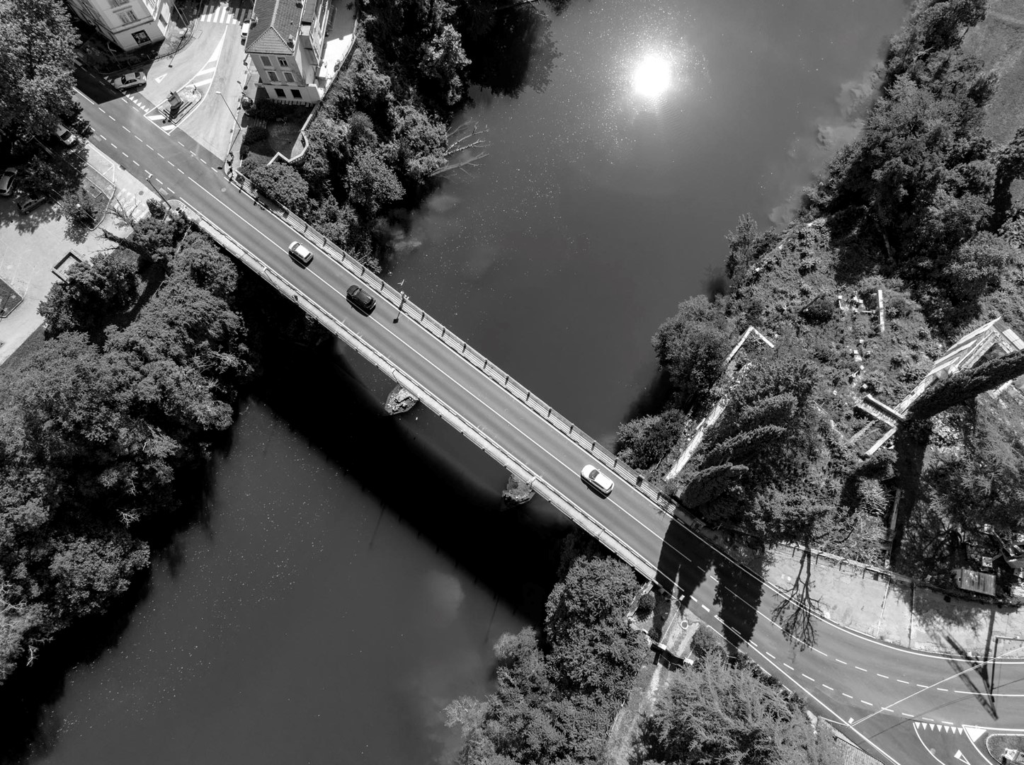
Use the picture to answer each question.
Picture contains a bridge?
Yes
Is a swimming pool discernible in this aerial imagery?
No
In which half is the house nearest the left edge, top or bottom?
top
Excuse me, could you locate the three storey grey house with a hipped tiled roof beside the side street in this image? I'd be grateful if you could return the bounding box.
[246,0,335,101]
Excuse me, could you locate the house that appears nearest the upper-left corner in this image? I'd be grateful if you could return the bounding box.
[63,0,174,50]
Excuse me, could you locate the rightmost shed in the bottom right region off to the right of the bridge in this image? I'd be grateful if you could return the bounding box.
[950,569,996,596]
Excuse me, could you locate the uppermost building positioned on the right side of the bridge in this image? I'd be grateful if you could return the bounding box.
[924,317,1024,378]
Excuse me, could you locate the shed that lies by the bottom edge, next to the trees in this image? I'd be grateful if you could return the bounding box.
[828,737,881,765]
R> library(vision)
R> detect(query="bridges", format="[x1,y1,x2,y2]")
[188,170,711,594]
